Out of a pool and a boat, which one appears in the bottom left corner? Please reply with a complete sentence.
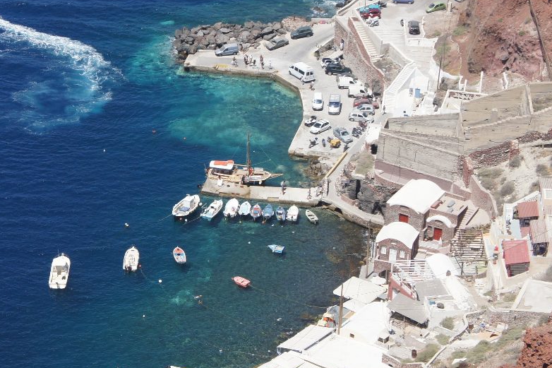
It is a boat that can be seen in the bottom left corner.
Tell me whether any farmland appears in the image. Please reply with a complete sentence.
No, no farmland is visible.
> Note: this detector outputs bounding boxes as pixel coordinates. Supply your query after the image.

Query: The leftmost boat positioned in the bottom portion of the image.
[47,254,68,294]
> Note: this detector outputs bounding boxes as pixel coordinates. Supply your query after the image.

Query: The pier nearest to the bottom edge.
[201,178,318,210]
